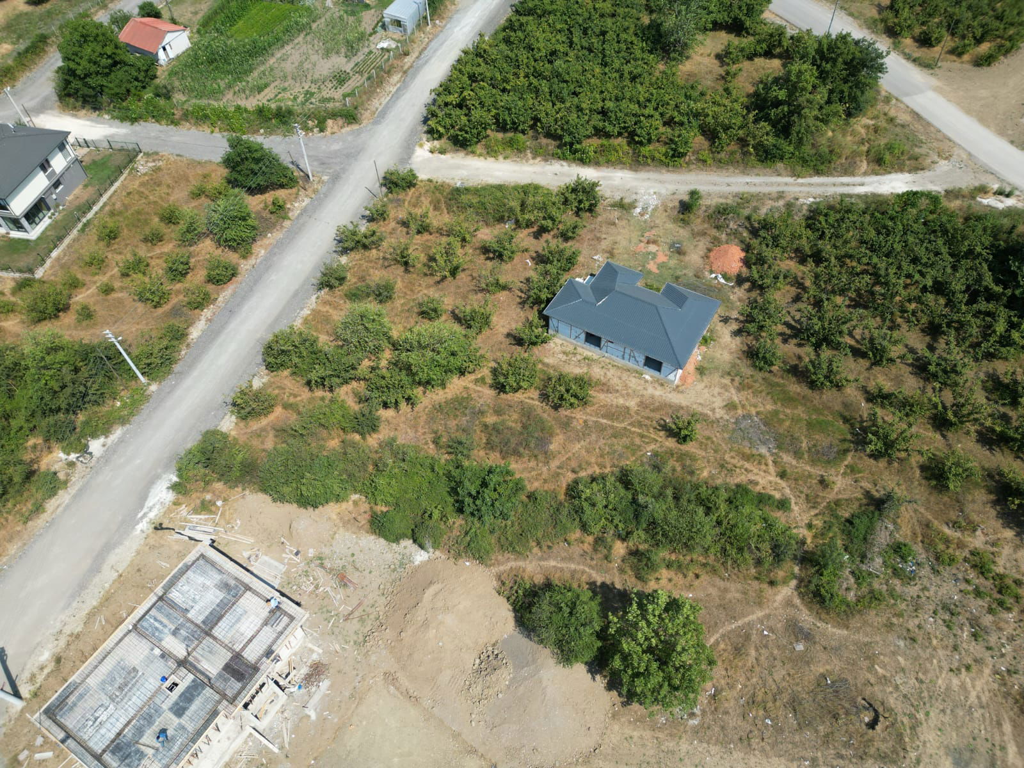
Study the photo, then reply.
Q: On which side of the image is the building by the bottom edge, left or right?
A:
left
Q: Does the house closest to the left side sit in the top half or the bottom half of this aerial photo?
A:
top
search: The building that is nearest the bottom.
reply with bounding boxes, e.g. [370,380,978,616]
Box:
[29,537,325,768]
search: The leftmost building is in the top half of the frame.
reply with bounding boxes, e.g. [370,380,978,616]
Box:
[0,117,84,240]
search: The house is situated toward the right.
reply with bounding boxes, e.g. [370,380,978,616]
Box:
[543,259,718,385]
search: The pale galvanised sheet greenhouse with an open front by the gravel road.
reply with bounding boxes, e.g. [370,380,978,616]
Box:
[382,0,441,36]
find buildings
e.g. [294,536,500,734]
[543,259,718,385]
[382,0,441,36]
[0,117,84,240]
[29,537,325,768]
[120,14,194,67]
